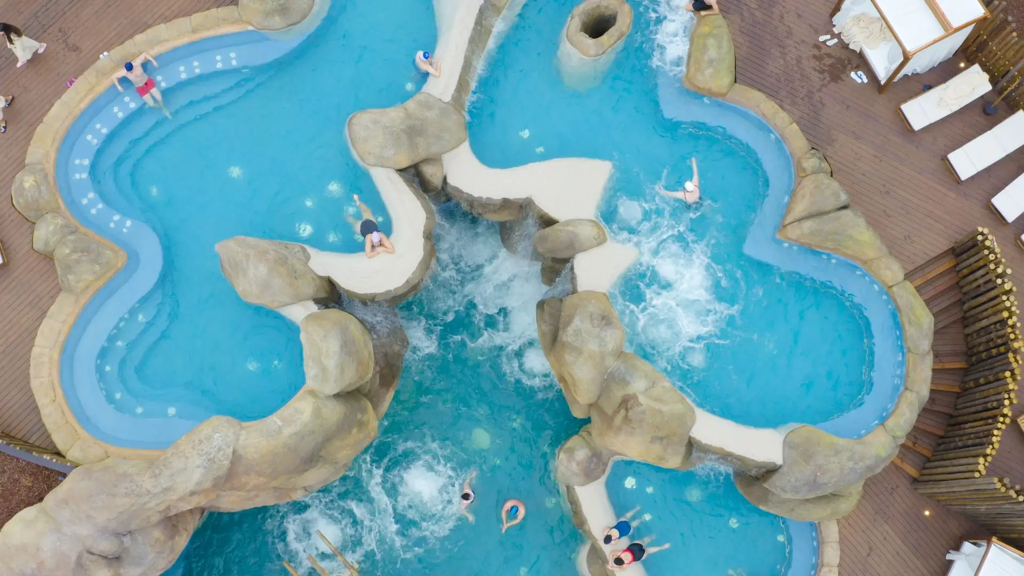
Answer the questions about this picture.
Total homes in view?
0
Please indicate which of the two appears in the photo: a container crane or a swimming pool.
swimming pool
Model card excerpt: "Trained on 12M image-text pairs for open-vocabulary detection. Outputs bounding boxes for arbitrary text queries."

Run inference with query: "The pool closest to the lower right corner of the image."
[607,463,816,576]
